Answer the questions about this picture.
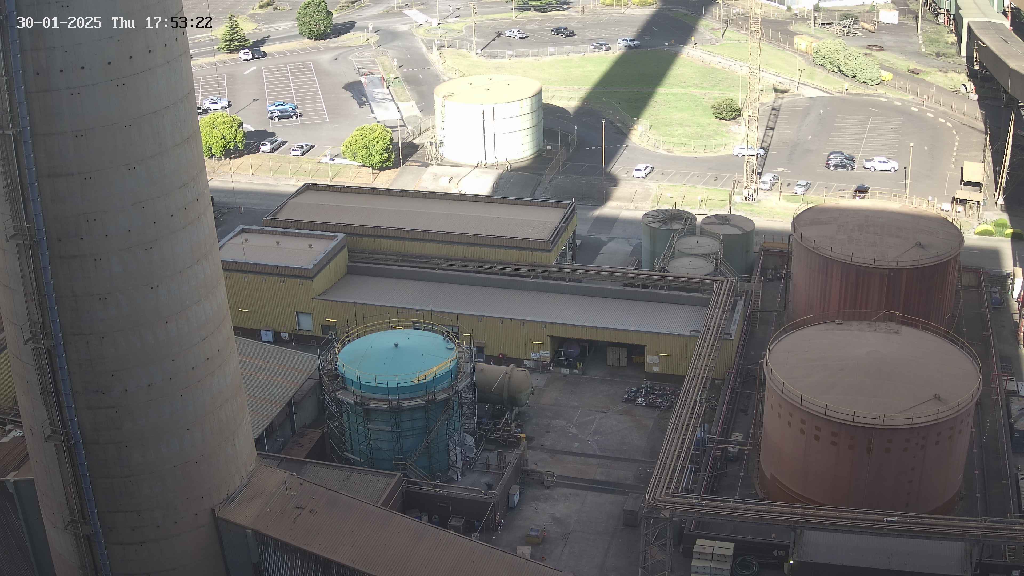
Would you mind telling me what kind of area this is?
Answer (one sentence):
The area seen from above is an industrial area.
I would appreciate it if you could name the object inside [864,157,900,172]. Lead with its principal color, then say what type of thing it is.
white vehicle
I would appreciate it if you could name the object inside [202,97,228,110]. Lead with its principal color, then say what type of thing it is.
white vehicle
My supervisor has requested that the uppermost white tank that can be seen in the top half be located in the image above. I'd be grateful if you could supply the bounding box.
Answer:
[434,73,546,166]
